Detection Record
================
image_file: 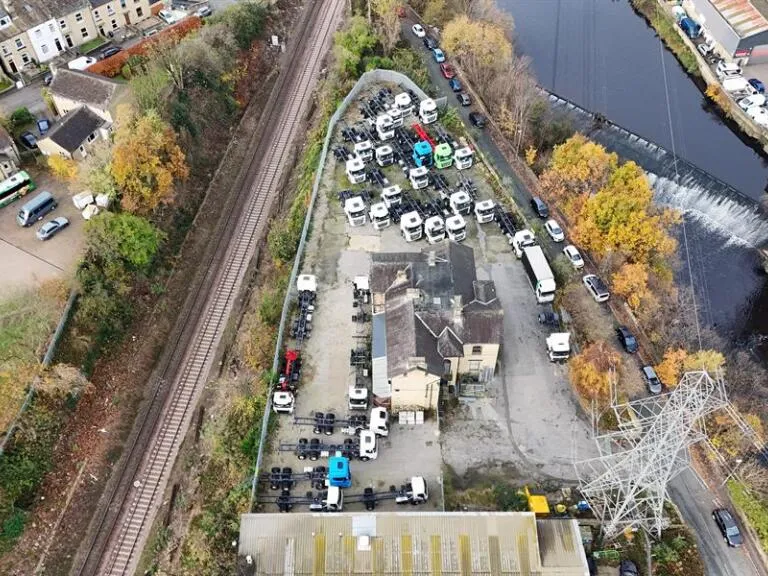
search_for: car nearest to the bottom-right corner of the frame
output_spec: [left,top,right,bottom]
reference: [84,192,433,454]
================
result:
[711,508,744,548]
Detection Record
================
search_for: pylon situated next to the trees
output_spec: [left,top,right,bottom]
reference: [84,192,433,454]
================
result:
[581,377,739,536]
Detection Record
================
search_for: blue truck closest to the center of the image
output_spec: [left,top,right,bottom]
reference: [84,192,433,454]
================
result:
[395,127,433,166]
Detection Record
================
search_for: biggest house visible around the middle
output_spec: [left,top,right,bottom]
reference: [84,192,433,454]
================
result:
[370,234,504,405]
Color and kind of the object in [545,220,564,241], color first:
white car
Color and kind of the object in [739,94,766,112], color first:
white vehicle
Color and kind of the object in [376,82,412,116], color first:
white truck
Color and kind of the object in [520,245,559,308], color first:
white truck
